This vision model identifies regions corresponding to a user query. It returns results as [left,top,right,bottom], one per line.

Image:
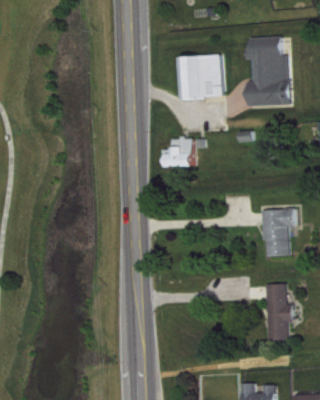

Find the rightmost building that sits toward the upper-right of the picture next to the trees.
[244,36,293,106]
